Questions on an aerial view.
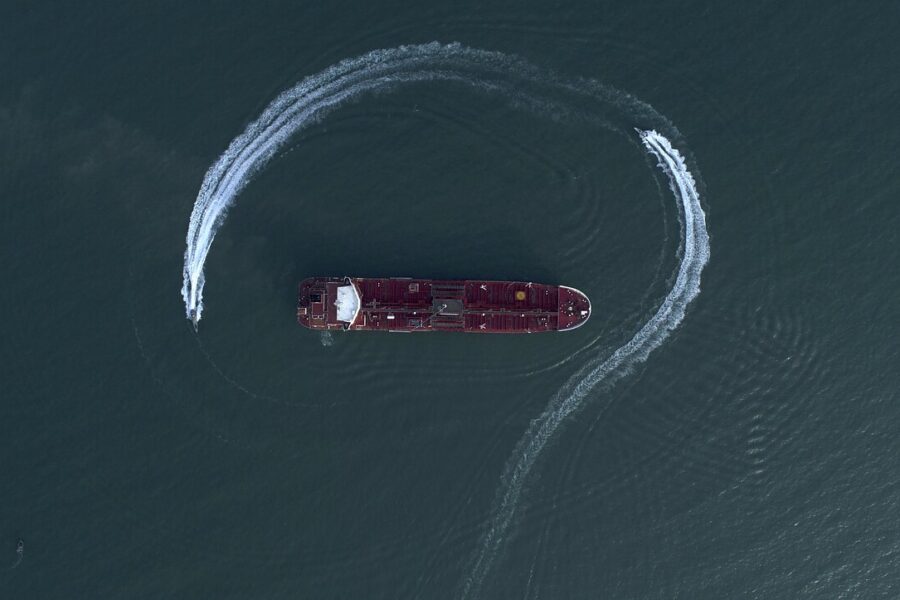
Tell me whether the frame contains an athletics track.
No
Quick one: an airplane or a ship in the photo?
ship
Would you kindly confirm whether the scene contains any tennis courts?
No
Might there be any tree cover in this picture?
No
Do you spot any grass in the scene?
No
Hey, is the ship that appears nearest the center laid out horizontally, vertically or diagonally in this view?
horizontally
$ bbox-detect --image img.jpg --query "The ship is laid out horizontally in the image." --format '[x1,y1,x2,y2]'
[298,277,592,334]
